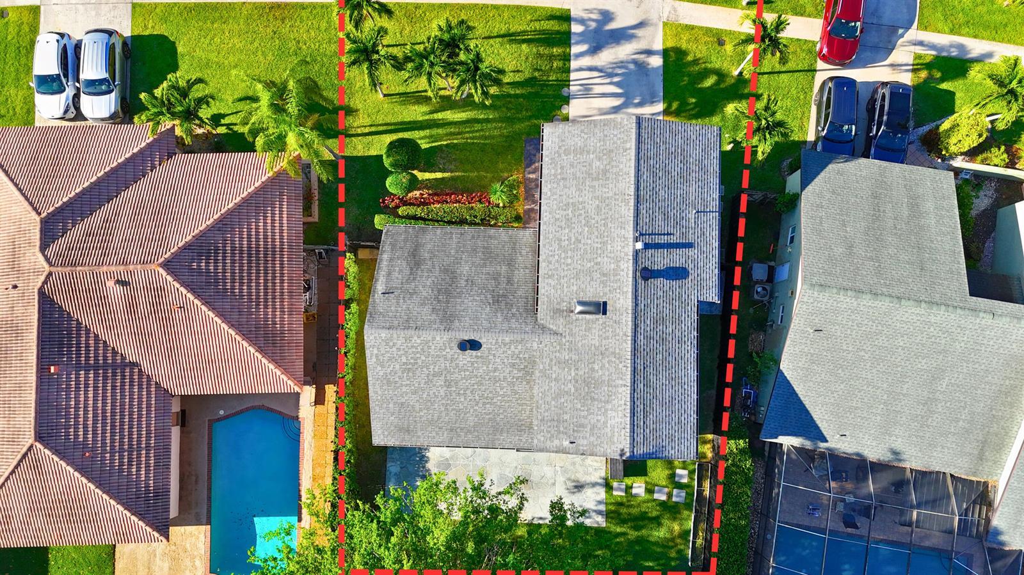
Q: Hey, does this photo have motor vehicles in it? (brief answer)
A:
Yes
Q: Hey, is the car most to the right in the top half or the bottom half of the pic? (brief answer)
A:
top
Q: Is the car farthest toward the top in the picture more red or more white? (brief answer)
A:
red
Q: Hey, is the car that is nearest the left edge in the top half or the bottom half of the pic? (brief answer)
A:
top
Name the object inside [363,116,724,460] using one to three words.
house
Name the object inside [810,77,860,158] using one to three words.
car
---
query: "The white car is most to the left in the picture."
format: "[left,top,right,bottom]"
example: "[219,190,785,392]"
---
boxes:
[32,35,83,121]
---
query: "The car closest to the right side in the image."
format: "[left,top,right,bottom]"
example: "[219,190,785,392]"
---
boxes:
[859,80,913,165]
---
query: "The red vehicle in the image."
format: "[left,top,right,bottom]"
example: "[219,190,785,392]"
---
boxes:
[815,0,867,66]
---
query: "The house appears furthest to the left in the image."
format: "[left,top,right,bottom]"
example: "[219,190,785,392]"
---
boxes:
[0,124,308,551]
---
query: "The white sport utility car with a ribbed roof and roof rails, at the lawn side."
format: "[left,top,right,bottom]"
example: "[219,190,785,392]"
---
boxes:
[76,31,131,123]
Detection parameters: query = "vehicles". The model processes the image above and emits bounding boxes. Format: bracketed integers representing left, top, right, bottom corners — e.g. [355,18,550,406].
[815,0,867,66]
[76,31,131,123]
[32,35,83,121]
[859,80,913,165]
[810,77,860,158]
